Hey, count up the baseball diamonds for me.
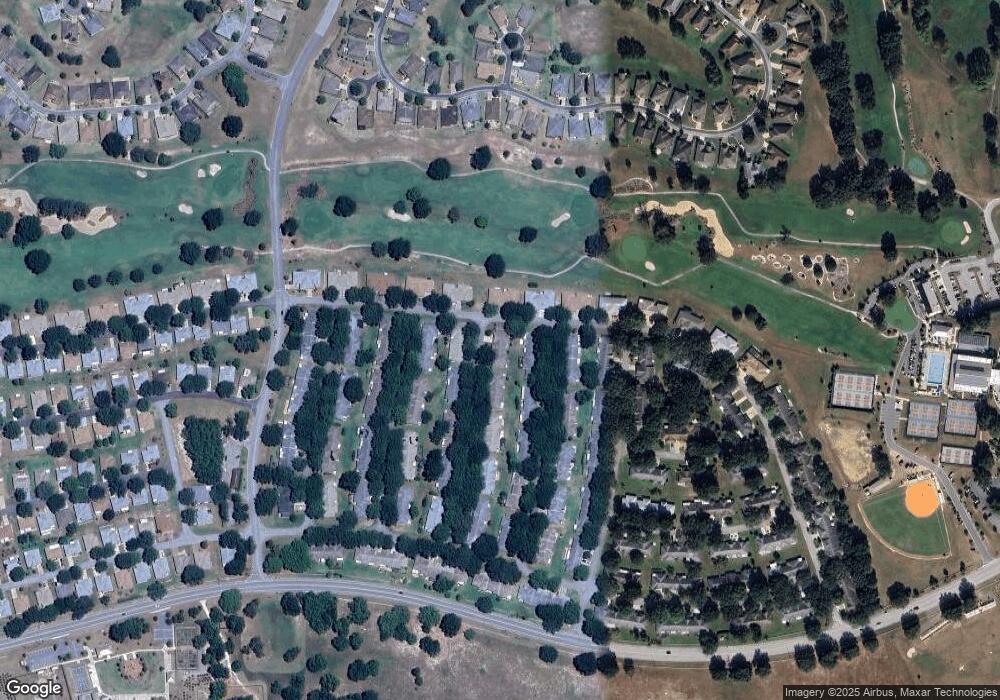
1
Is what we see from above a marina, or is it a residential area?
residential area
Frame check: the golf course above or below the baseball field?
above it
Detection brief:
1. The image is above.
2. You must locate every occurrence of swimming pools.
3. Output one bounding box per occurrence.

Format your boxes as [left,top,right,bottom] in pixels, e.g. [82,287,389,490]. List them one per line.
[921,347,951,391]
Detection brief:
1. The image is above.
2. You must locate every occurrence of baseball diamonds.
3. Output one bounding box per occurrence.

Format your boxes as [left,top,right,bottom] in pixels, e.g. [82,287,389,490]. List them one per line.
[857,472,952,559]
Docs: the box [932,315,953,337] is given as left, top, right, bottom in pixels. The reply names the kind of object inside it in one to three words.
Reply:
building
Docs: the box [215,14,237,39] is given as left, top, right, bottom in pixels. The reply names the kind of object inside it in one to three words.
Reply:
house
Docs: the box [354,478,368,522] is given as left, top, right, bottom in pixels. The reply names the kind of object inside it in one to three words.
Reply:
house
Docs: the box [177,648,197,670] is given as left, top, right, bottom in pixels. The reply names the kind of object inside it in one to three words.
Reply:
tennis court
